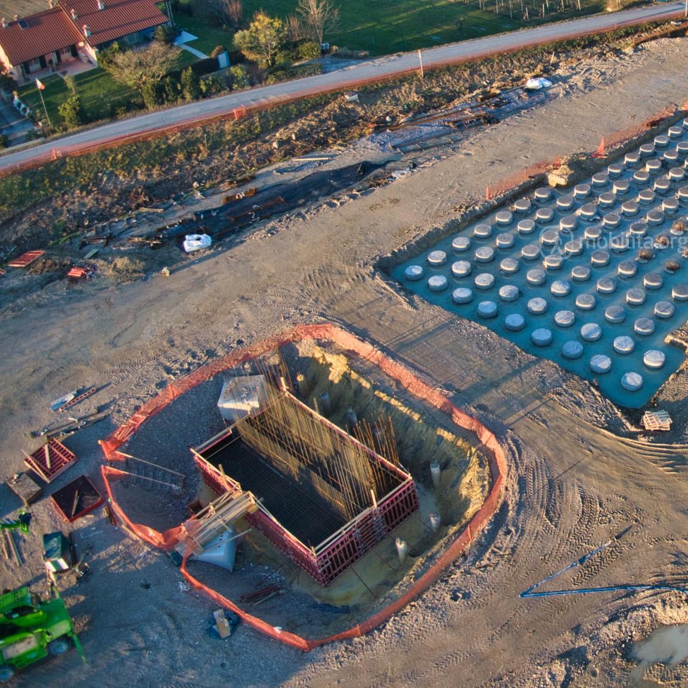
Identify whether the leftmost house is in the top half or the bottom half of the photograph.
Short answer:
top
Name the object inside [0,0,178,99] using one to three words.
house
